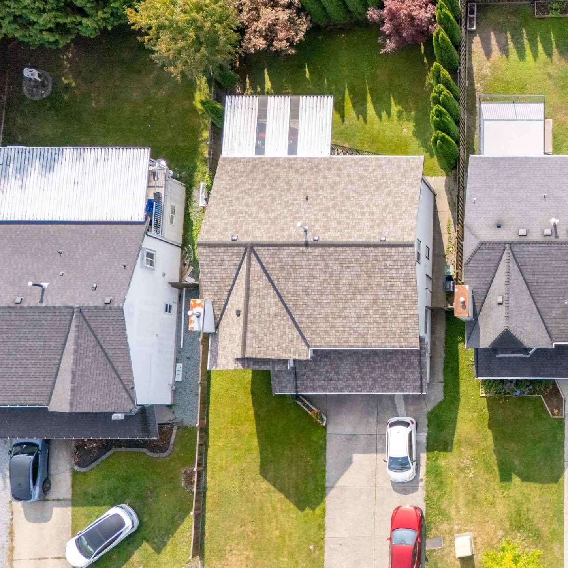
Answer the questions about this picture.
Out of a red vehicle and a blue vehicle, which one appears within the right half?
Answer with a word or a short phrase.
red vehicle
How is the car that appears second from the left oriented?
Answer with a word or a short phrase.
diagonally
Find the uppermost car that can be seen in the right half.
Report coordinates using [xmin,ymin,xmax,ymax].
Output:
[383,415,421,482]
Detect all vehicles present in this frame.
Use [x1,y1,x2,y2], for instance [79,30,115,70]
[6,442,52,504]
[68,503,145,567]
[388,503,427,568]
[383,415,421,482]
